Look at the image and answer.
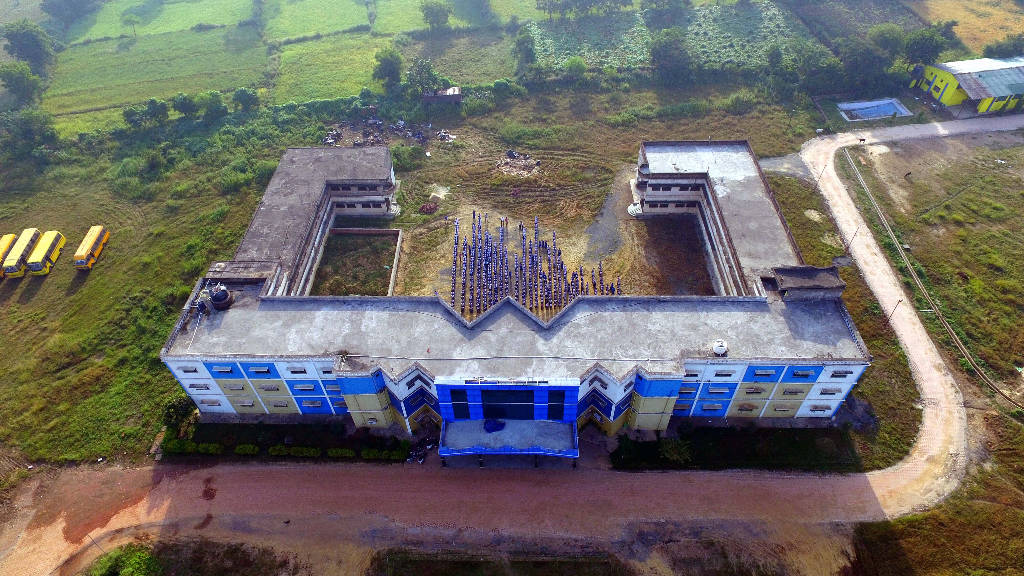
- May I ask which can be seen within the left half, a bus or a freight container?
bus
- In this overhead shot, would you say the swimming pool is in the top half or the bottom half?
top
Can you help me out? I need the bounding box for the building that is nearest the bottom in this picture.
[160,135,872,471]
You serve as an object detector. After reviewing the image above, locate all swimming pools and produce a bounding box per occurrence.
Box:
[839,99,913,122]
